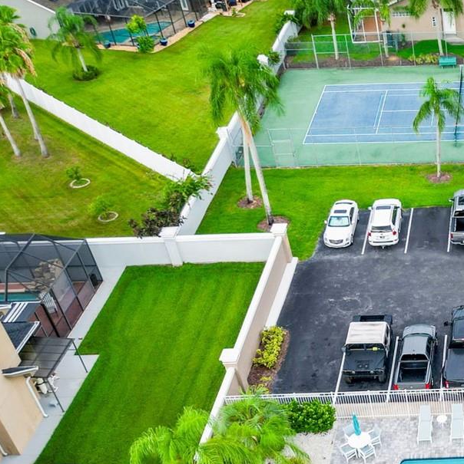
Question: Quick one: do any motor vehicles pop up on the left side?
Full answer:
No, there is no motor vehicle on the left side.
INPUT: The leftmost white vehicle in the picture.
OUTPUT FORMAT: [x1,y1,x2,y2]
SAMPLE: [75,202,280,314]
[323,204,362,251]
